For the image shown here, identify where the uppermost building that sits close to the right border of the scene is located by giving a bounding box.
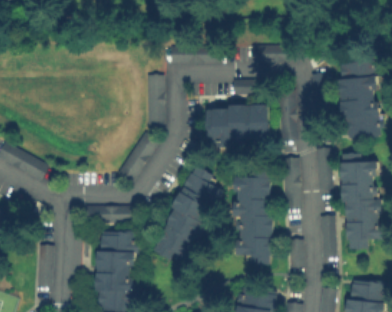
[340,62,384,138]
